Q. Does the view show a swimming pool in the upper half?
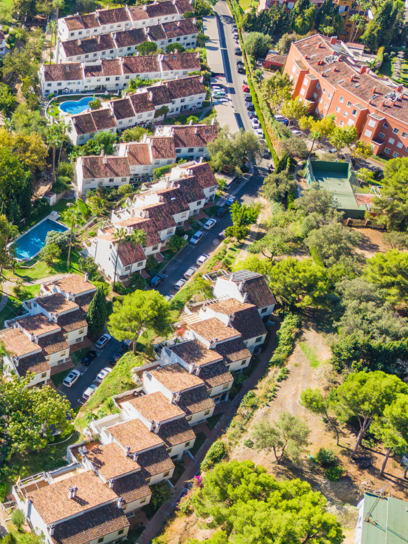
Yes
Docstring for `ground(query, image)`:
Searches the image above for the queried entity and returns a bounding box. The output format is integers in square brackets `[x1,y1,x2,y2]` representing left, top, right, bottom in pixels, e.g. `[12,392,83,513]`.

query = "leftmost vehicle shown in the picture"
[63,369,81,386]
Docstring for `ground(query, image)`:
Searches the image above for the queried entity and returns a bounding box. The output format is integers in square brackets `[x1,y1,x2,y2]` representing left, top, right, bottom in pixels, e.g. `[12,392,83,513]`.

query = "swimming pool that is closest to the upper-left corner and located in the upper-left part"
[58,95,102,115]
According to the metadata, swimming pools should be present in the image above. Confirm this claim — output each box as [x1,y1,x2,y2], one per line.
[11,216,71,260]
[58,95,102,115]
